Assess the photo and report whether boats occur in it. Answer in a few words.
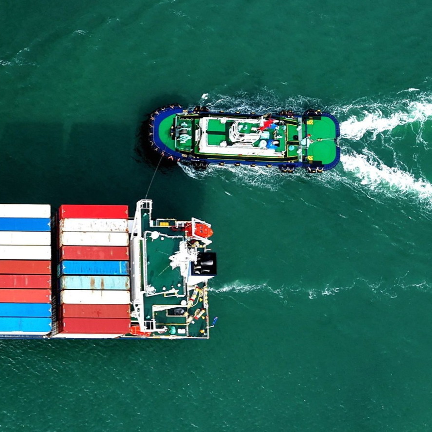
Yes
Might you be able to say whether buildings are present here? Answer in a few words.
No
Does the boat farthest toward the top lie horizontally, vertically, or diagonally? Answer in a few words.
horizontally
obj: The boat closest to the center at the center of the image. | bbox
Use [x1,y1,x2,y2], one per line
[186,222,213,239]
